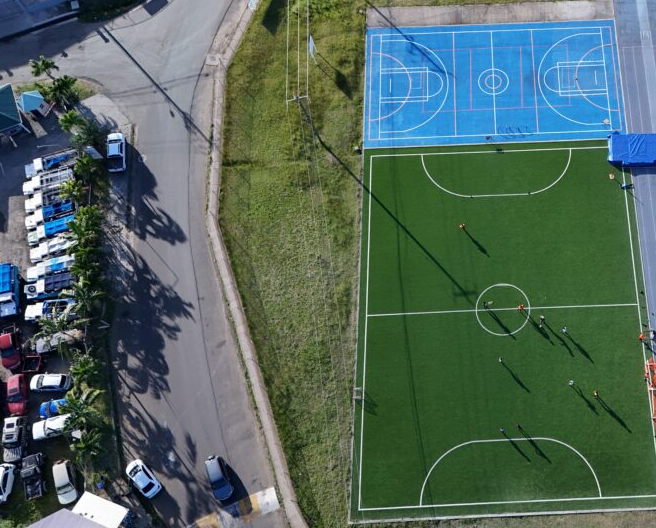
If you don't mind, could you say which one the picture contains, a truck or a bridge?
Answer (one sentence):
The image shows a truck.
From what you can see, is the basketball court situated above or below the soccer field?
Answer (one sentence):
The basketball court is above the soccer field.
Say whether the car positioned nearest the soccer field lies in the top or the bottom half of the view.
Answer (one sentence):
It is in the bottom half that the car positioned nearest the soccer field appears.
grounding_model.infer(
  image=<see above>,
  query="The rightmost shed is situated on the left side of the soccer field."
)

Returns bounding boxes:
[75,491,137,528]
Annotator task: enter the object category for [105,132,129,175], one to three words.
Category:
truck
